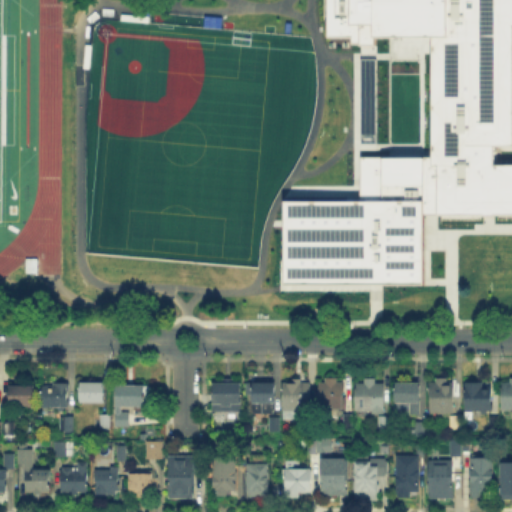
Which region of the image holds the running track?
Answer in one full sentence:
You can find the running track in the top left area of the picture.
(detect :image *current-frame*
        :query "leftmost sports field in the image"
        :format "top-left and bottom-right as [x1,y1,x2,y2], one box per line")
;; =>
[0,0,39,249]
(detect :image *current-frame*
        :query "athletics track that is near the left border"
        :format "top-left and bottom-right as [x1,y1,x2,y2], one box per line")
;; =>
[0,0,66,276]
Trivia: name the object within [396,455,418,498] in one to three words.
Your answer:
house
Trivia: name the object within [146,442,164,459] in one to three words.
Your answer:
building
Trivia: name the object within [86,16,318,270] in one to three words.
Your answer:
baseball field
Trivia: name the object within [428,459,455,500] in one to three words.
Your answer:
house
